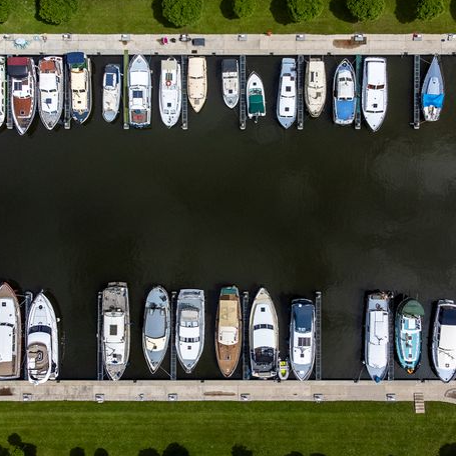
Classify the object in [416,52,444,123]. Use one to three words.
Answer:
boat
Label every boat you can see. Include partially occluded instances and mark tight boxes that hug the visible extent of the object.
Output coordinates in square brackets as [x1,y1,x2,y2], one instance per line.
[0,283,25,383]
[330,53,358,126]
[288,298,317,383]
[158,53,184,127]
[101,53,124,121]
[69,52,94,122]
[24,292,63,386]
[0,53,10,128]
[302,51,328,117]
[391,297,424,379]
[247,288,281,383]
[175,289,206,383]
[102,283,133,382]
[356,293,392,383]
[279,358,289,379]
[186,57,209,111]
[219,56,241,106]
[7,53,39,133]
[37,55,66,129]
[428,298,456,383]
[247,52,265,122]
[142,285,178,383]
[127,53,155,128]
[274,55,298,127]
[416,52,444,123]
[359,52,389,132]
[214,286,244,383]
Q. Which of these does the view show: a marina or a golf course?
marina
